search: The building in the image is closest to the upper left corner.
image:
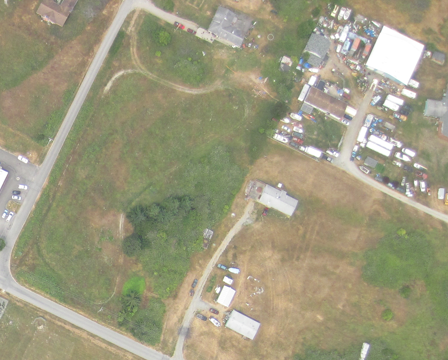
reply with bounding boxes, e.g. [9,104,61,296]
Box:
[37,0,82,28]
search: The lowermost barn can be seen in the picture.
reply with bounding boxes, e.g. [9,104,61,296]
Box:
[224,310,260,340]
